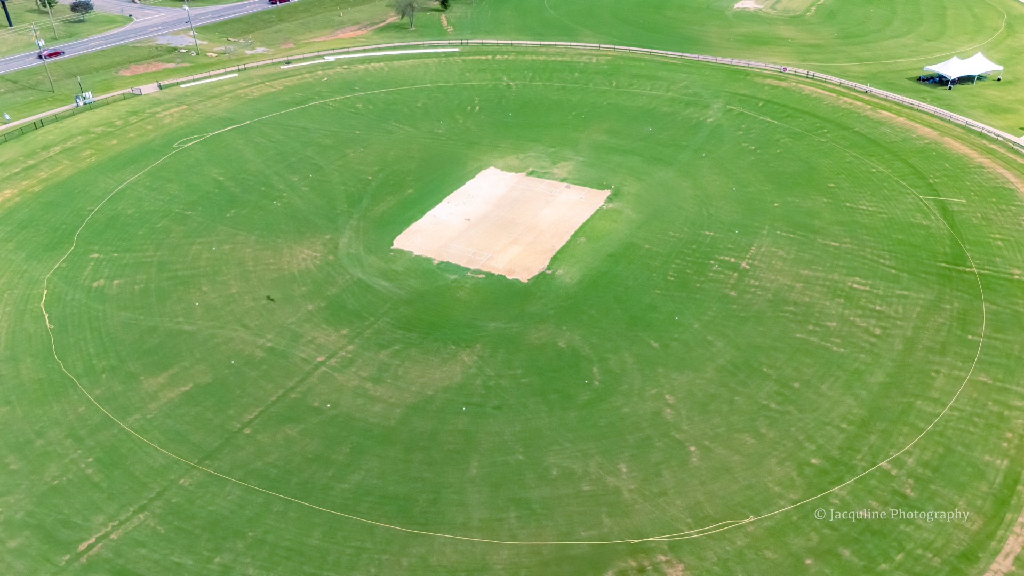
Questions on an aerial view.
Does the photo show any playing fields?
Yes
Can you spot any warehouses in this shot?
No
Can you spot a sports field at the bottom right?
No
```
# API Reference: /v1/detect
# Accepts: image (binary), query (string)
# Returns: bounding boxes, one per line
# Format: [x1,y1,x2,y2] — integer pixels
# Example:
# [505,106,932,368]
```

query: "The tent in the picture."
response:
[917,52,1005,89]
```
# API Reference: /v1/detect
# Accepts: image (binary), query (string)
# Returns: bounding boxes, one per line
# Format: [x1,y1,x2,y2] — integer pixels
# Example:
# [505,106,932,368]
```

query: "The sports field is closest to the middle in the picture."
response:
[392,166,612,282]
